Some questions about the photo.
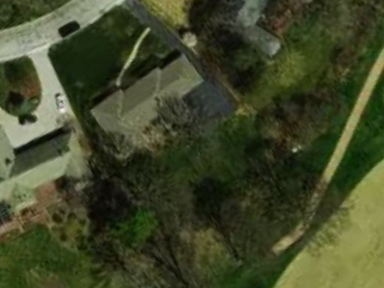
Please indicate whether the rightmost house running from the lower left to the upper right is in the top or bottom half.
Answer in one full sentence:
The rightmost house running from the lower left to the upper right sits in the top half of the picture.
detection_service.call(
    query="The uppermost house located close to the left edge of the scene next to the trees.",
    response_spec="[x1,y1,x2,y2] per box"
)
[0,123,91,210]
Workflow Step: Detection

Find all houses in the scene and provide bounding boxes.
[234,0,284,57]
[86,48,203,149]
[0,123,91,210]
